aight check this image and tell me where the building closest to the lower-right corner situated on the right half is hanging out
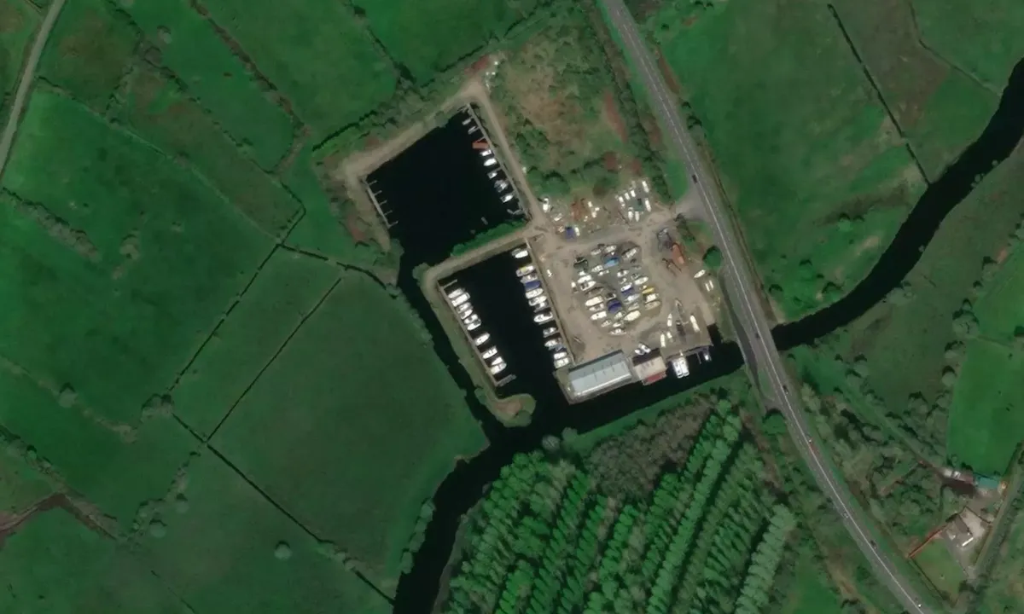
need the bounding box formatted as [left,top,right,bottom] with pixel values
[945,515,973,545]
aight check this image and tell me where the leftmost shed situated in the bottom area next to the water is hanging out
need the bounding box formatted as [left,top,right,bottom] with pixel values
[570,353,632,397]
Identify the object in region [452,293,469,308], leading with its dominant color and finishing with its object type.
white boat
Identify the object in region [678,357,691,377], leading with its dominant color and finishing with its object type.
white boat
